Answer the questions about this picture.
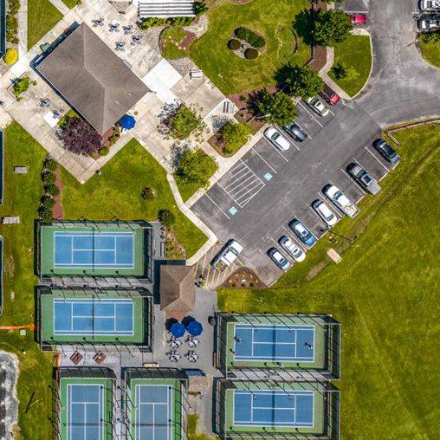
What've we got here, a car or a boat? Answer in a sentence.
There is a car in the scene.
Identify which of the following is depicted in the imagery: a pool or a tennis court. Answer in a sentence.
Of the two, only a tennis court appears.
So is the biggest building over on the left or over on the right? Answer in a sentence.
The biggest building sits on the left side.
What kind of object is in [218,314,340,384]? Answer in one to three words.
tennis court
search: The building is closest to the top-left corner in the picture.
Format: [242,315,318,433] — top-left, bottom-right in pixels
[37,23,149,135]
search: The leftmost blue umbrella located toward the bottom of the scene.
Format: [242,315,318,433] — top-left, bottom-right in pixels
[170,322,184,336]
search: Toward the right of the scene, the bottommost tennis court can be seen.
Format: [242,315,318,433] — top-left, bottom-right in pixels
[217,379,339,440]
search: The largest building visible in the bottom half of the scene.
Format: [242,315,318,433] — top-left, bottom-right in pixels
[160,264,195,312]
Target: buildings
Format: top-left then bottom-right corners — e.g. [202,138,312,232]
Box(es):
[37,23,149,135]
[160,264,195,312]
[186,371,207,392]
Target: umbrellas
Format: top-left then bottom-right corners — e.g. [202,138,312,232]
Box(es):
[188,321,202,335]
[170,322,184,336]
[119,114,134,129]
